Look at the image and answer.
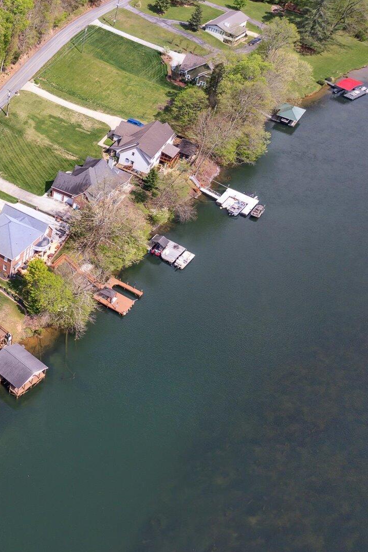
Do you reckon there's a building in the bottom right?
No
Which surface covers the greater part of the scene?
water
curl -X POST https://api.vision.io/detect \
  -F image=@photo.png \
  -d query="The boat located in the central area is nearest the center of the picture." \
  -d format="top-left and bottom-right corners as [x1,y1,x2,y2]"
[176,251,199,271]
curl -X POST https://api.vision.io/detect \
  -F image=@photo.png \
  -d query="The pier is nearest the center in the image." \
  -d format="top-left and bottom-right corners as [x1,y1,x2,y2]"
[148,237,188,265]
